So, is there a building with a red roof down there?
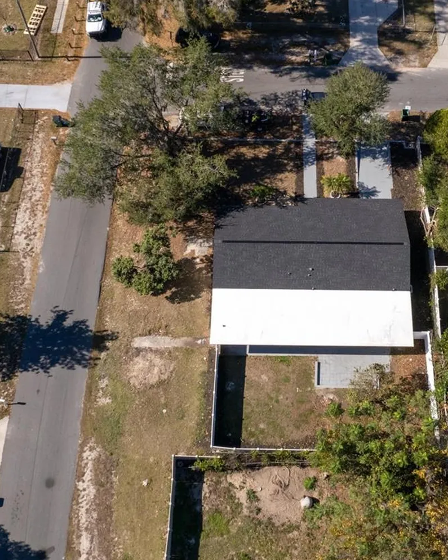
No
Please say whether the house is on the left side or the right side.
right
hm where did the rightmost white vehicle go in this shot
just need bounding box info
[82,0,109,38]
